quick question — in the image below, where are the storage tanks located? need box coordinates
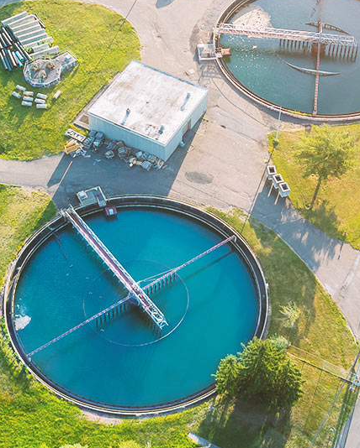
[5,181,266,416]
[197,0,360,122]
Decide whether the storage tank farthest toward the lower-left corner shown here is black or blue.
blue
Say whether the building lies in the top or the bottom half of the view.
top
